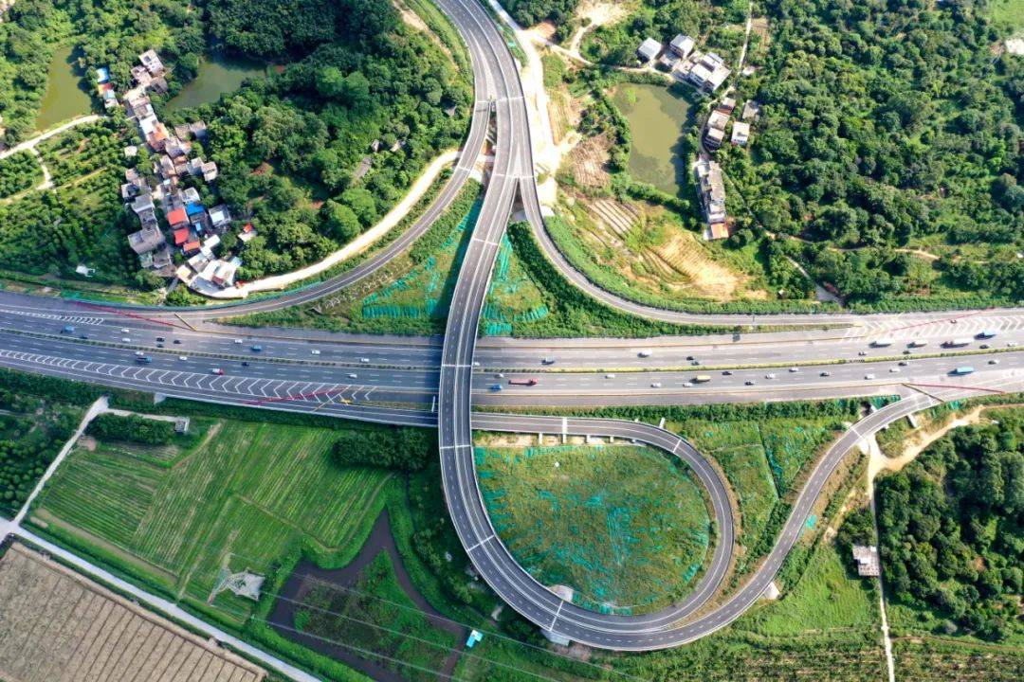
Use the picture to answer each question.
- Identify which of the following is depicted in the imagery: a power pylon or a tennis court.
power pylon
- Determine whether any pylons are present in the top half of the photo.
No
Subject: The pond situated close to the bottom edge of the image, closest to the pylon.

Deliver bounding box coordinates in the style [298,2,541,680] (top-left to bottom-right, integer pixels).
[265,504,467,682]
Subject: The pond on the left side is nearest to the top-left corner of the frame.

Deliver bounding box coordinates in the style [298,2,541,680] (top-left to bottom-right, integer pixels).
[35,47,93,132]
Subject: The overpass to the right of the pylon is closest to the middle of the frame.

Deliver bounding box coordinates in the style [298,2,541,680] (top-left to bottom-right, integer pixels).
[439,99,669,651]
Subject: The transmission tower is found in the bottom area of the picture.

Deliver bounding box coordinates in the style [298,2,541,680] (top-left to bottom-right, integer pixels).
[210,557,260,608]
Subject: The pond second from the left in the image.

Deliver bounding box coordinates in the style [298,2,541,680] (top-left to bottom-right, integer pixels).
[165,54,265,112]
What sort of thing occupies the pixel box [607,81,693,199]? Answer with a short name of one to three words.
pond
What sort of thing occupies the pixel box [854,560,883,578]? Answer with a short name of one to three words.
house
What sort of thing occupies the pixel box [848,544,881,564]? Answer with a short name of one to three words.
house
